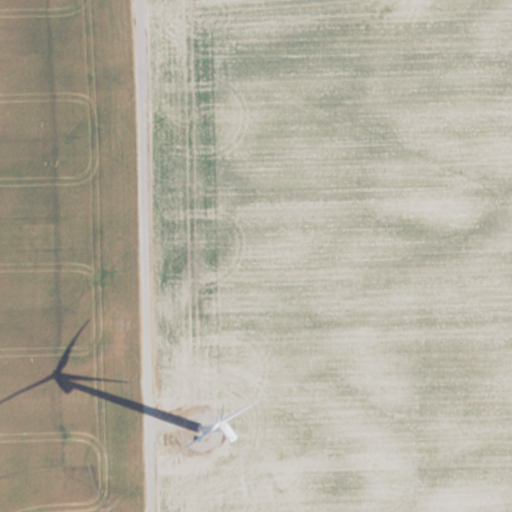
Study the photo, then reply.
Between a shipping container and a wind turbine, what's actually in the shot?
wind turbine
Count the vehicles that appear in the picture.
0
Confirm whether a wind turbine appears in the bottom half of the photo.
Yes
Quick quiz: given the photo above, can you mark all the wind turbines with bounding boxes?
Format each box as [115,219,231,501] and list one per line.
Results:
[131,372,298,484]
